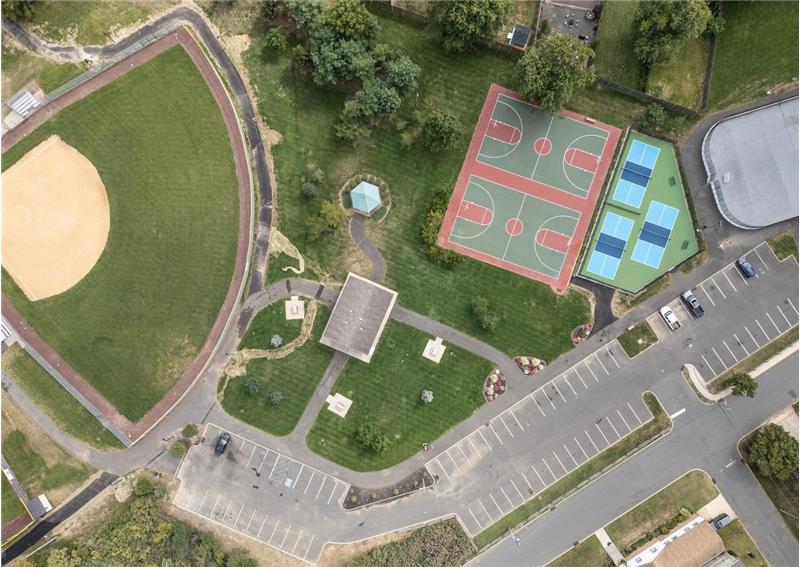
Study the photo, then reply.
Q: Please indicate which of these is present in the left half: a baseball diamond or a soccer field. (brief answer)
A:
baseball diamond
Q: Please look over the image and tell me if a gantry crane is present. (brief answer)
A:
No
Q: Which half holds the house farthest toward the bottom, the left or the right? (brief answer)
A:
right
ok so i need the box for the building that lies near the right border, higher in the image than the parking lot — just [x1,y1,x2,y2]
[701,93,800,230]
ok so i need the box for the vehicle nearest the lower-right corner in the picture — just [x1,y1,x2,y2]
[710,512,734,528]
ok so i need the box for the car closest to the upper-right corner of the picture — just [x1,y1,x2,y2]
[737,257,755,279]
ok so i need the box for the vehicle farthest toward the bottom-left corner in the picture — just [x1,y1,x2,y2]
[215,431,230,455]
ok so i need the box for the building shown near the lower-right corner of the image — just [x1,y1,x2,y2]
[625,517,730,567]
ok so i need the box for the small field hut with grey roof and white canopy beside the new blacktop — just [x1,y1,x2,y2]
[24,492,55,519]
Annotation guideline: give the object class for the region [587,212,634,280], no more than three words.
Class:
sports court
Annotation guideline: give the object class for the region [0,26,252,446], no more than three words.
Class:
baseball field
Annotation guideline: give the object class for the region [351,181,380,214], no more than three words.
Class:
gazebo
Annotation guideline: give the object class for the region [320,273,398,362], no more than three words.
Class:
building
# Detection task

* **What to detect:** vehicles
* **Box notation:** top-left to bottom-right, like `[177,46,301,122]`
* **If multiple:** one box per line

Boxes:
[681,290,704,317]
[710,512,734,528]
[215,431,230,455]
[737,257,755,279]
[659,304,682,331]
